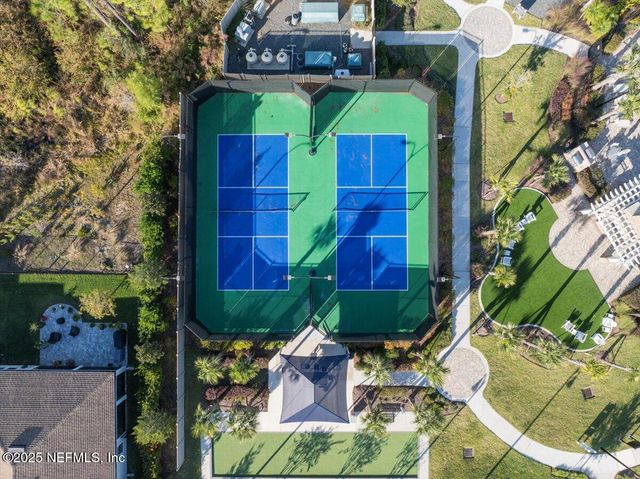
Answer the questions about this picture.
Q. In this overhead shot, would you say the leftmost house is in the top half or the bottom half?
bottom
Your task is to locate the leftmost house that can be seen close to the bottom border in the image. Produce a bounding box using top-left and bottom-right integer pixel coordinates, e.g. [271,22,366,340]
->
[0,361,129,479]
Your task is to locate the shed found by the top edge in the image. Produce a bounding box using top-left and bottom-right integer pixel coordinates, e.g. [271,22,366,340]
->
[301,2,338,26]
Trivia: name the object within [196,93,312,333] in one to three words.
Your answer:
sports court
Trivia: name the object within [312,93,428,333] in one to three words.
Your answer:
sports court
